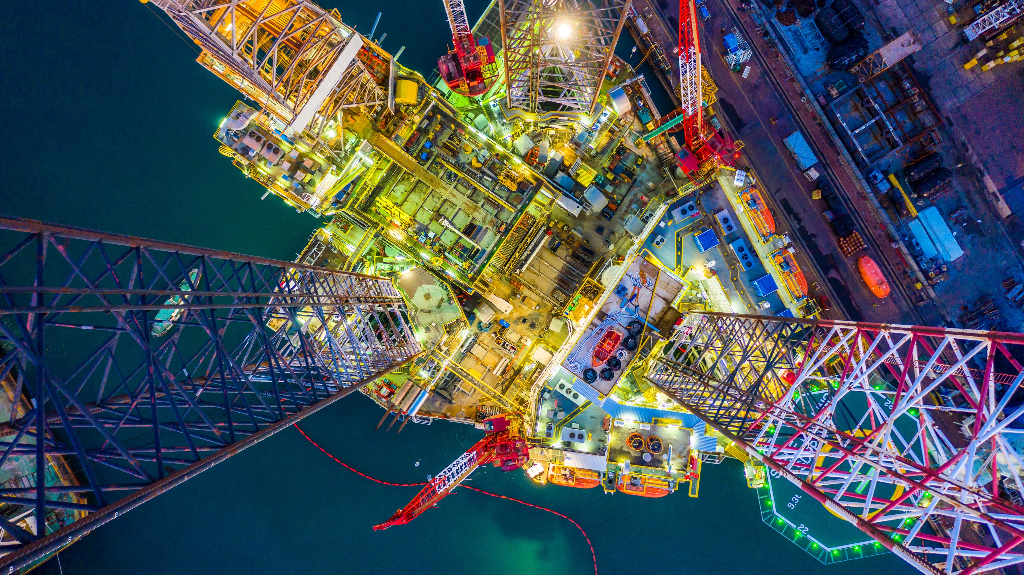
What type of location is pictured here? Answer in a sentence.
This image shows a port.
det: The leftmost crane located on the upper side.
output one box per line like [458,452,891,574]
[437,0,500,100]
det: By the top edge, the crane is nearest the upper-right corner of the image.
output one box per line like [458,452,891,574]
[661,0,745,192]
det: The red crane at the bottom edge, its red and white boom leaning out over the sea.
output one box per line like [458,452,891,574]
[369,411,529,534]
